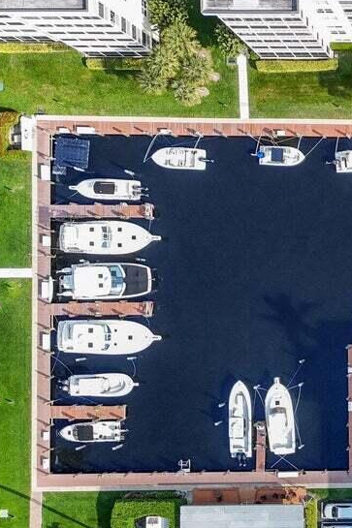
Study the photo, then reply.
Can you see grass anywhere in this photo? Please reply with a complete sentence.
Yes, grass can be seen from above here.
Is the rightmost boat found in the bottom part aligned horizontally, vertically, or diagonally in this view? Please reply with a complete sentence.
The rightmost boat found in the bottom part is oriented vertically.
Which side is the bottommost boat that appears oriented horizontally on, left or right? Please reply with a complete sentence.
It is on the left.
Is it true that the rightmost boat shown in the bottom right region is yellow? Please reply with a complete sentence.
No, the rightmost boat shown in the bottom right region is white.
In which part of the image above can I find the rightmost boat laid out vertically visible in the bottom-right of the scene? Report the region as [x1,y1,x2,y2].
[256,362,301,468]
